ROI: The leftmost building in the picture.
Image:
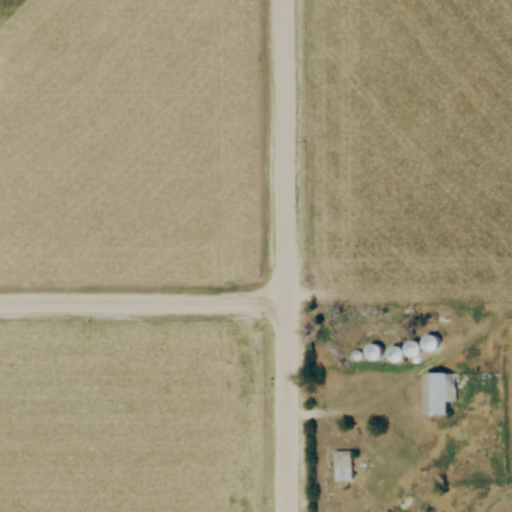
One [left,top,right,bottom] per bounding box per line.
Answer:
[334,451,355,484]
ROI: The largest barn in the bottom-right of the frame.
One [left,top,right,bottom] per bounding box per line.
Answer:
[428,372,458,416]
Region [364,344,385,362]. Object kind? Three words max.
silo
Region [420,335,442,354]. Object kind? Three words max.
silo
